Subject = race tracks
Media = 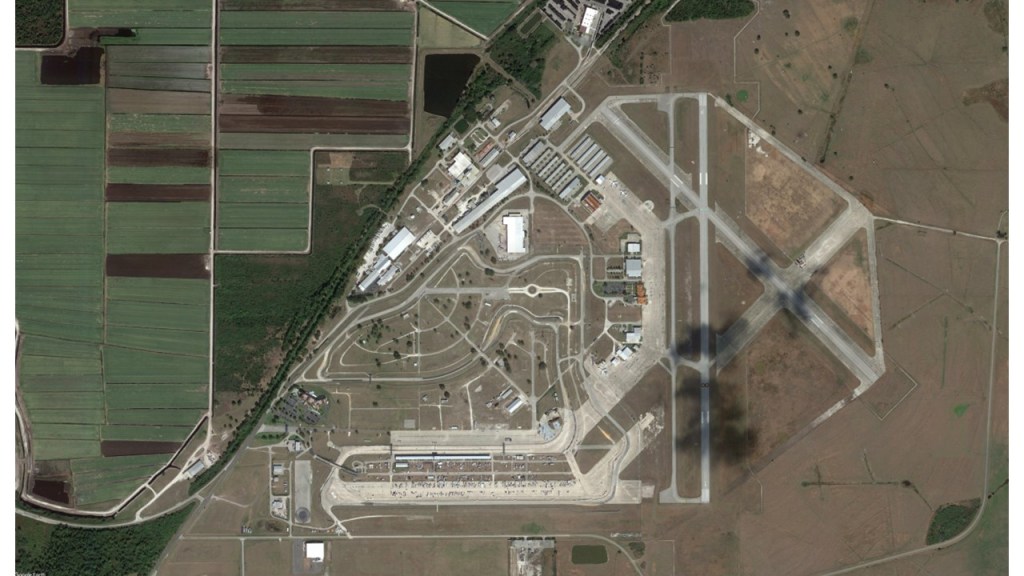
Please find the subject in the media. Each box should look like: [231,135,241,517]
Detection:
[299,244,654,504]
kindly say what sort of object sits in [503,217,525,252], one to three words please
building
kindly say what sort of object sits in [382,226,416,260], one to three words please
building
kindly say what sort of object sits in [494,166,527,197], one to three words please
shed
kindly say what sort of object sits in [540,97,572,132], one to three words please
hangar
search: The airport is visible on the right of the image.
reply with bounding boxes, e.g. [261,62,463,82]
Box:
[519,91,885,503]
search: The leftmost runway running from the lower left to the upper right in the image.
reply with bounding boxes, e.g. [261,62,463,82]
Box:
[716,267,805,375]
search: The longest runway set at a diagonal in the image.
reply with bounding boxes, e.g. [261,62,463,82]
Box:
[599,102,879,381]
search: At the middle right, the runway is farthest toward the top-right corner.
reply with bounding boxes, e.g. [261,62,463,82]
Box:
[790,209,872,284]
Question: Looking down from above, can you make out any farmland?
Yes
